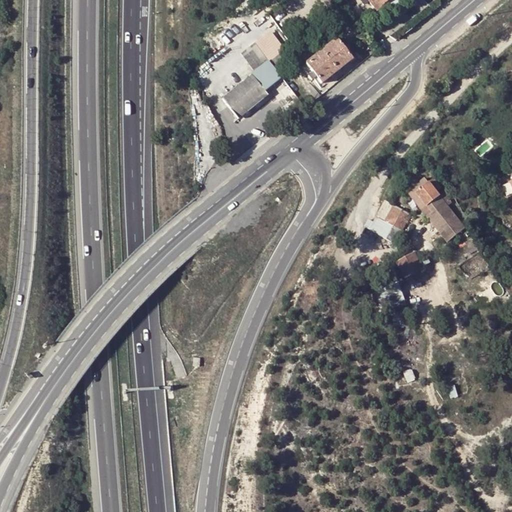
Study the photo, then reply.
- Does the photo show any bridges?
Yes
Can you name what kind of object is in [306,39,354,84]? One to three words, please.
house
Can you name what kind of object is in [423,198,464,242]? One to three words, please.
house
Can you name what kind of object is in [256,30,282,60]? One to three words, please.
building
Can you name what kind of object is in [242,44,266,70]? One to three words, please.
shed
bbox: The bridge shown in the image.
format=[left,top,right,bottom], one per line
[39,218,199,388]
